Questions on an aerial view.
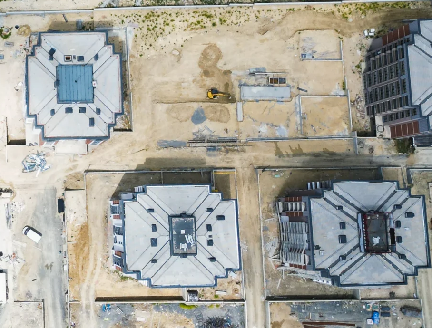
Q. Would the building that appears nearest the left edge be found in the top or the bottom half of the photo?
top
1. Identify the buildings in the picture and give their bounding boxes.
[281,181,432,285]
[25,31,124,154]
[114,185,240,288]
[361,19,432,146]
